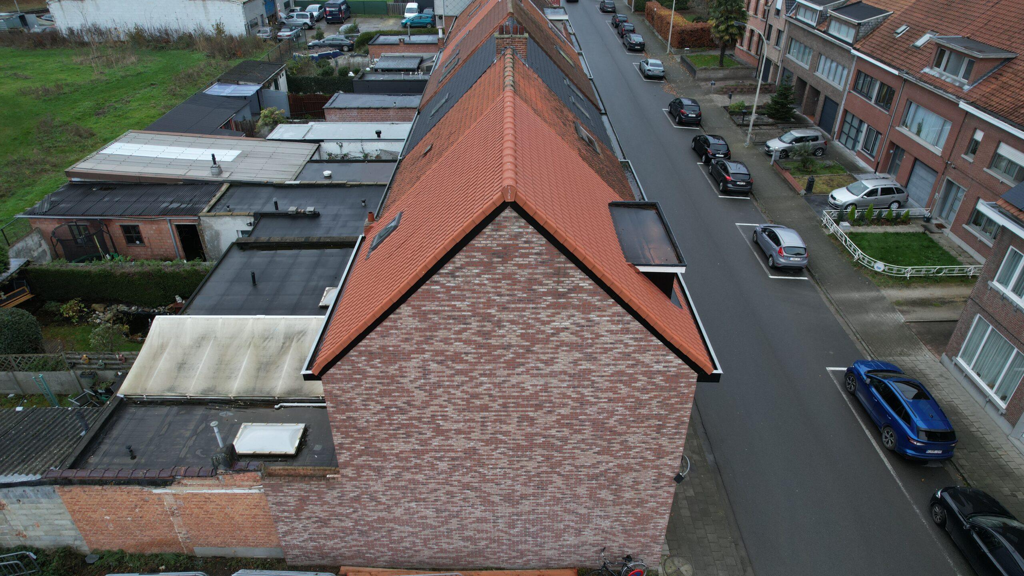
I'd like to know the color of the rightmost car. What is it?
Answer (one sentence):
The rightmost car looks black in the image.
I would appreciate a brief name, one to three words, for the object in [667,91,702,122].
car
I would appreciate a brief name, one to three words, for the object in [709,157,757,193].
car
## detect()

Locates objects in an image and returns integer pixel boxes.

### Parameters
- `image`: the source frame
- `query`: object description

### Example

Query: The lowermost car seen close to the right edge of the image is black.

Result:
[927,485,1024,576]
